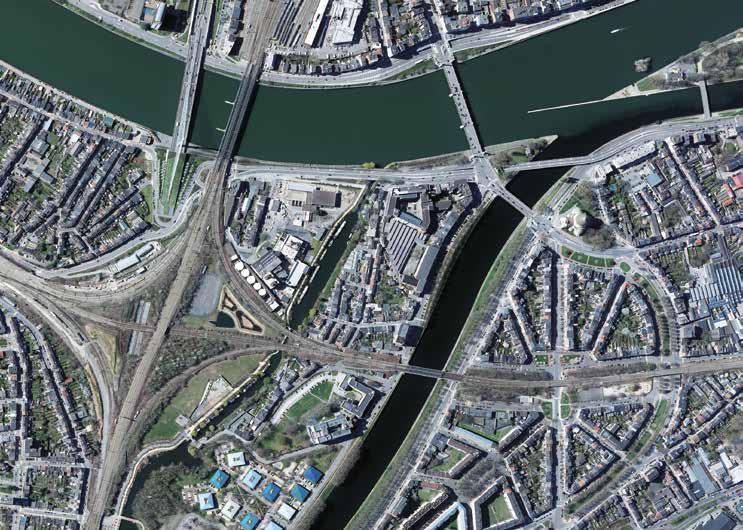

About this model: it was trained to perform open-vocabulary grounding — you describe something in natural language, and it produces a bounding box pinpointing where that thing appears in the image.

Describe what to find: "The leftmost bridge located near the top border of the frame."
[171,0,210,151]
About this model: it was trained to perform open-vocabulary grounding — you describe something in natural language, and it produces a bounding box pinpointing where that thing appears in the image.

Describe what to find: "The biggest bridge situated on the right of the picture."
[439,57,485,161]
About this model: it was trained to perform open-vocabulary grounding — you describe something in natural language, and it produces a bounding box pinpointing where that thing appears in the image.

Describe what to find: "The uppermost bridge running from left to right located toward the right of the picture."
[491,154,591,174]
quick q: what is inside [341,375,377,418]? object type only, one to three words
house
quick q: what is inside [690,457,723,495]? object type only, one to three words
building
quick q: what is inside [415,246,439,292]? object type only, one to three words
building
